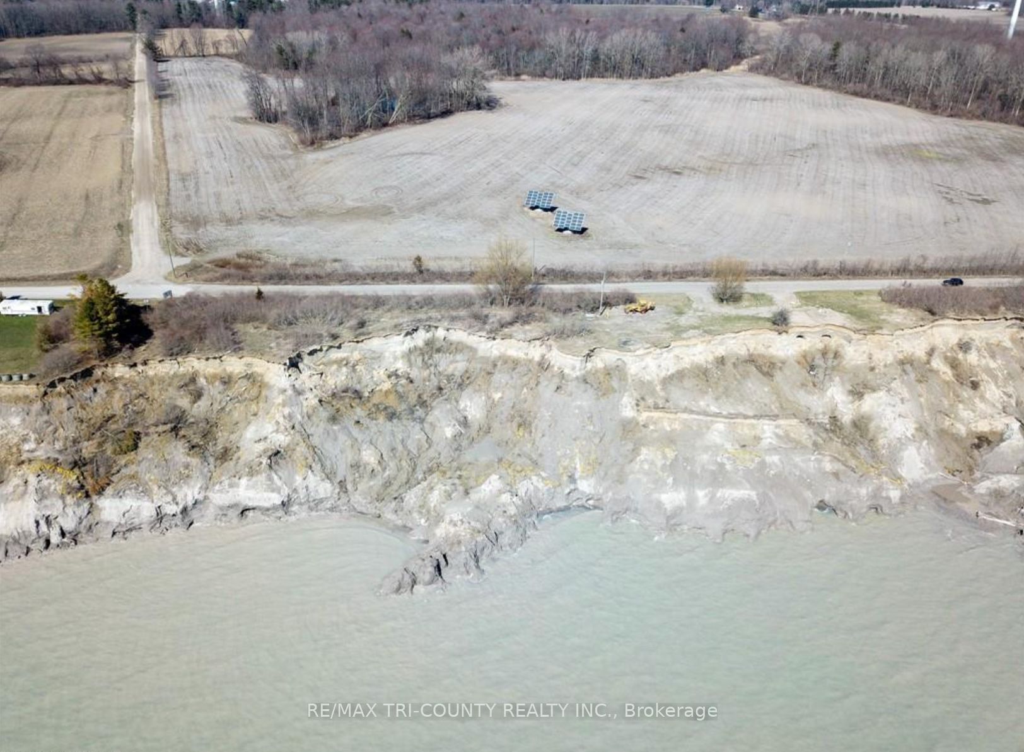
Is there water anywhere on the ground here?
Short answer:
Yes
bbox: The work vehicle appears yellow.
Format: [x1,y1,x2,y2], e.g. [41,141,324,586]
[624,298,659,314]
